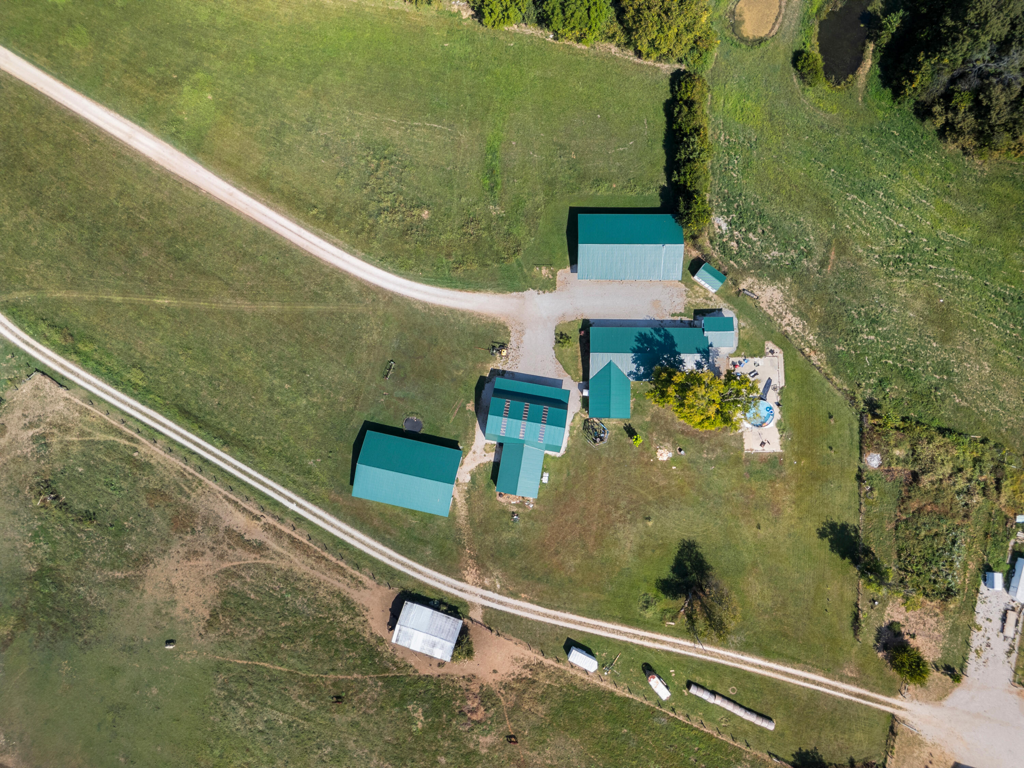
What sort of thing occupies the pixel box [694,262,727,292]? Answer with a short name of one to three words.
shed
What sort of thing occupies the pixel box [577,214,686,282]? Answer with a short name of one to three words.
shed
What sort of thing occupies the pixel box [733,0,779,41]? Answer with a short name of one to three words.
pond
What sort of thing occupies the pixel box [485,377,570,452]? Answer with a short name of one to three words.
barn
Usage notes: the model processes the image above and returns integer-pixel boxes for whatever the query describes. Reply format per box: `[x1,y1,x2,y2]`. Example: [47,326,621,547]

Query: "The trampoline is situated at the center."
[402,414,423,434]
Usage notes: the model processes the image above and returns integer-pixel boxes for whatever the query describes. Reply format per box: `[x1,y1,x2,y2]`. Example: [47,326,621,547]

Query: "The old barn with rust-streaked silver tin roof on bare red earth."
[392,599,464,662]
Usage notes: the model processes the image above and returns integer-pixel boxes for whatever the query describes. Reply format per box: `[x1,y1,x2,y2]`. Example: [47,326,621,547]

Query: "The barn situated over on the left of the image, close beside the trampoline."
[354,431,462,514]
